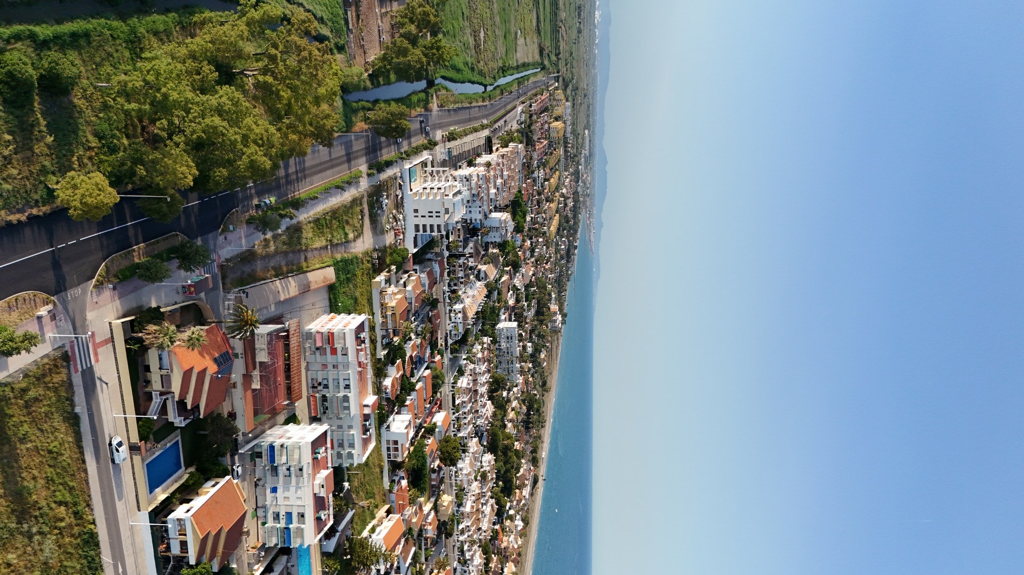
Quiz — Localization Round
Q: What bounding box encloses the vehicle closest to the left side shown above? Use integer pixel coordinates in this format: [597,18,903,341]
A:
[110,436,128,466]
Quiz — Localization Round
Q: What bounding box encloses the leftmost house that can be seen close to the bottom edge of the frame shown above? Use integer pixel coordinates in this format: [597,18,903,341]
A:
[154,466,248,575]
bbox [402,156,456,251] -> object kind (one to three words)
building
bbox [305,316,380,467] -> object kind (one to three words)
building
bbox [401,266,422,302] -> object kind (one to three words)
house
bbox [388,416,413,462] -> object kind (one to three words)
house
